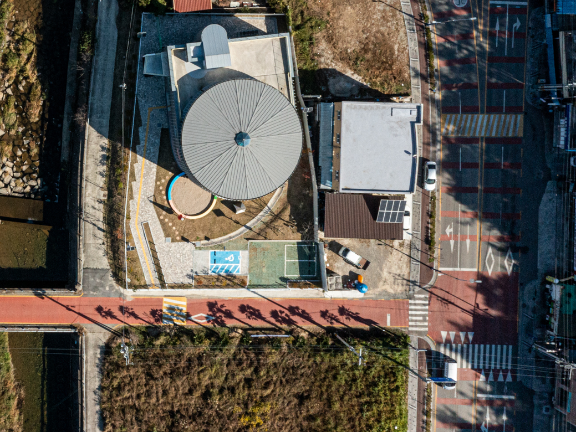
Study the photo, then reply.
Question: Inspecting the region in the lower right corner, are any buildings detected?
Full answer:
Yes, you'll find a building in the lower right corner.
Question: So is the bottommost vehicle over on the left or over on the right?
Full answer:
The bottommost vehicle appears in the right half of the scene.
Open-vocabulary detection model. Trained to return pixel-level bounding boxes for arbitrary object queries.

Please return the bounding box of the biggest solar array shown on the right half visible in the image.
[374,199,407,223]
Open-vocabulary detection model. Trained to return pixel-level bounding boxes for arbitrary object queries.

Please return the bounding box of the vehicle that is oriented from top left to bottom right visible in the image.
[337,245,371,271]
